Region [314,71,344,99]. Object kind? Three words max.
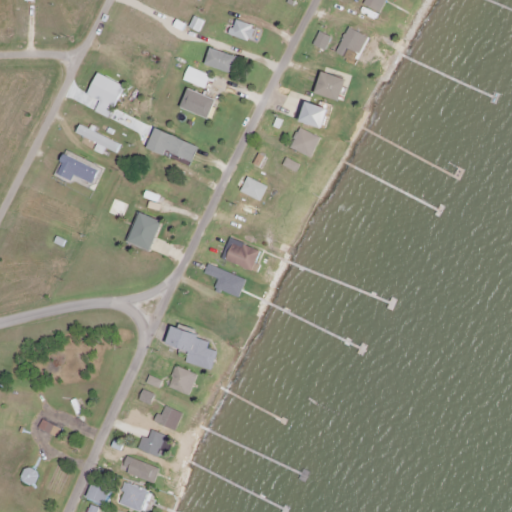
house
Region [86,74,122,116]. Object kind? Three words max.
building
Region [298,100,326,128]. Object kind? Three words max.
house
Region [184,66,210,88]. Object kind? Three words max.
building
